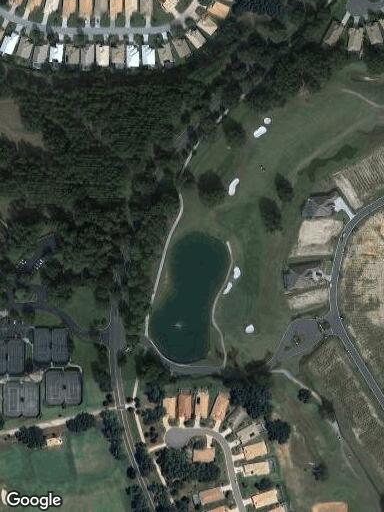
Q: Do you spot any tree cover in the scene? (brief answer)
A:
Yes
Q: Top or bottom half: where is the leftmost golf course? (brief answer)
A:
bottom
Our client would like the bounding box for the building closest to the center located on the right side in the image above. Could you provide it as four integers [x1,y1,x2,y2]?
[282,264,319,291]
